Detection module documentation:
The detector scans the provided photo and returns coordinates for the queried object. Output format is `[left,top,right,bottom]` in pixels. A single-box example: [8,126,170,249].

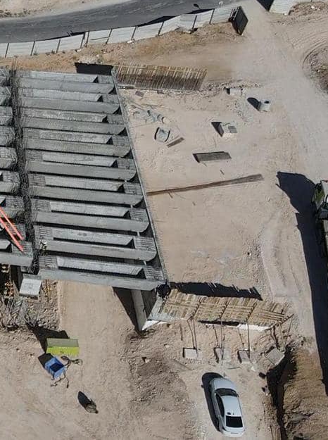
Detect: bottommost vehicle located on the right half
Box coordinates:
[212,373,249,439]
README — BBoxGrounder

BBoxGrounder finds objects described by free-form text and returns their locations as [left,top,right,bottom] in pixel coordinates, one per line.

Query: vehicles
[311,180,328,284]
[212,373,249,439]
